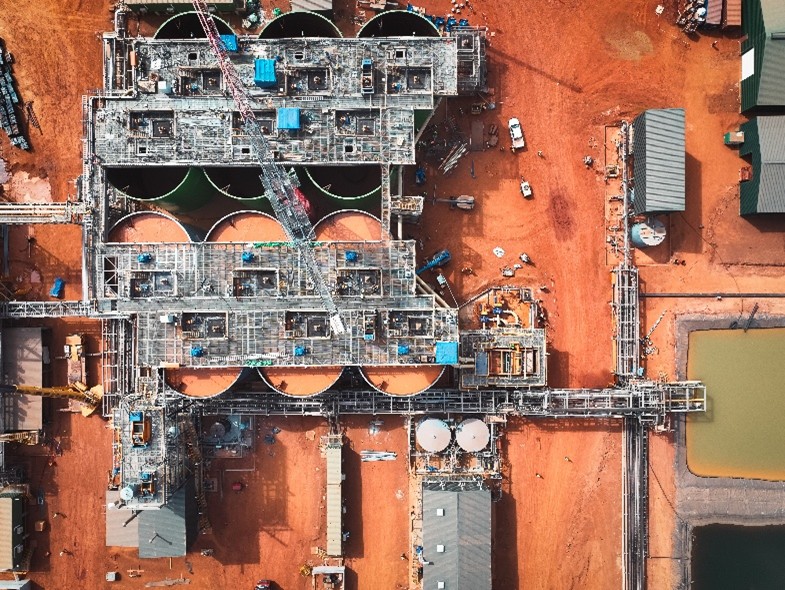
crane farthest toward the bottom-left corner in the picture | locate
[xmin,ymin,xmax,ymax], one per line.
[0,337,109,417]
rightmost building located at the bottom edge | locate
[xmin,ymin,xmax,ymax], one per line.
[419,476,491,590]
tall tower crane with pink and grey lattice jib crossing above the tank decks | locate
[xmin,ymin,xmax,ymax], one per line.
[184,0,347,336]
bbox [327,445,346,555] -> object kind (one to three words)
building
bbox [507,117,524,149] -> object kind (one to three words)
vehicle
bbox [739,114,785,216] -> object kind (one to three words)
building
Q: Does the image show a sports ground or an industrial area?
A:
industrial area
